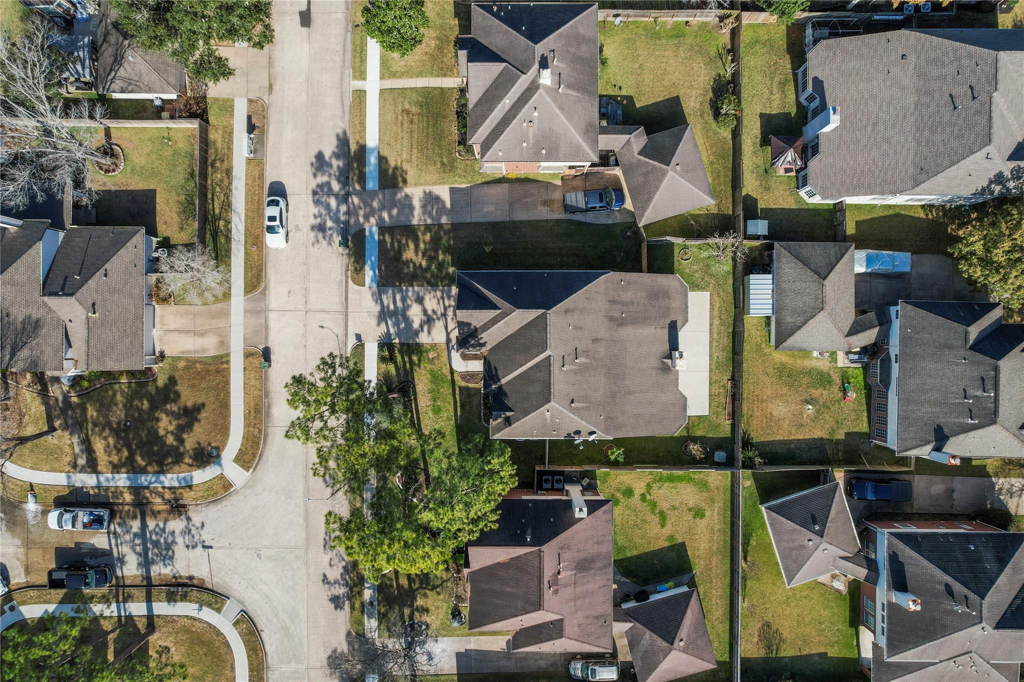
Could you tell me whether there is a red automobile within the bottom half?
No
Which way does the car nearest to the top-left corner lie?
up and down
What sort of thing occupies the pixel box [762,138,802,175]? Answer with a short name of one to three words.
gazebo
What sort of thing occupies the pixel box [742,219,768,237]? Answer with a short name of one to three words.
shed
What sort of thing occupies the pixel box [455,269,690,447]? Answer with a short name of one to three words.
house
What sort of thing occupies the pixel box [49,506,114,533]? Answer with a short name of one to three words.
truck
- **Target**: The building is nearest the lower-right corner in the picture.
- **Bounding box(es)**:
[858,520,1024,682]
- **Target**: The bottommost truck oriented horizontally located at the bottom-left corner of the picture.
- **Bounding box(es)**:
[46,563,116,592]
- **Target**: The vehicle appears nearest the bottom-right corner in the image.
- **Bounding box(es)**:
[843,477,912,503]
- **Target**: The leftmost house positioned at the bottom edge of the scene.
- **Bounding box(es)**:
[465,477,614,653]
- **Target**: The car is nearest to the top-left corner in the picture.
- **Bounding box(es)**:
[263,195,290,250]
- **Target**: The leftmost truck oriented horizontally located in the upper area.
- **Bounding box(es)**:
[560,186,625,214]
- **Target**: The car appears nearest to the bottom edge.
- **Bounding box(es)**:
[567,653,621,681]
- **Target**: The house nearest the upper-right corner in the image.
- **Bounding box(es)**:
[795,28,1024,203]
